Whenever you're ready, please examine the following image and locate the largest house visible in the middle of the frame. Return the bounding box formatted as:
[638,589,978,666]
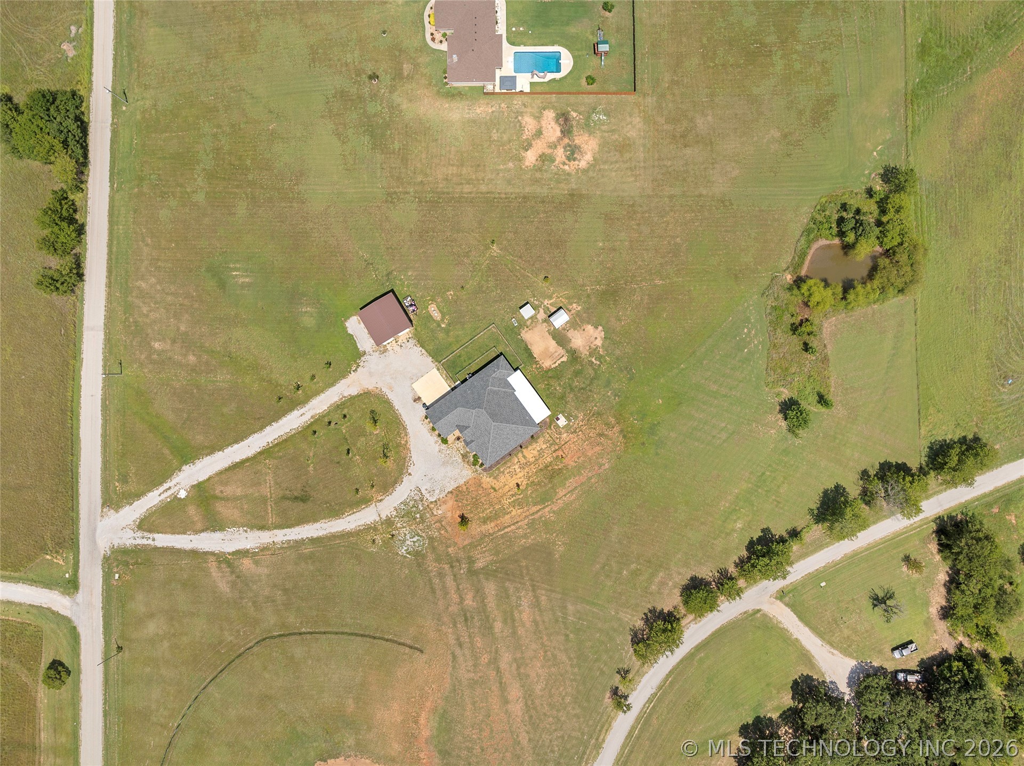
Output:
[426,355,551,467]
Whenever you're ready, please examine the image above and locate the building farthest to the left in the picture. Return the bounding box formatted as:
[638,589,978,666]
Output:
[358,292,413,346]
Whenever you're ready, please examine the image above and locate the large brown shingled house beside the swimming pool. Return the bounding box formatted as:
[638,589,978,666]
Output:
[435,0,503,86]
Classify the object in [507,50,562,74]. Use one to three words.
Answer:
swimming pool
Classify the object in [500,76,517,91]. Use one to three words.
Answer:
gazebo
